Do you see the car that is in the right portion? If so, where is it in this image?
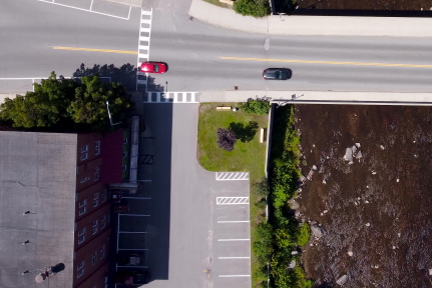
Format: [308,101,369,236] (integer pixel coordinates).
[262,67,291,82]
